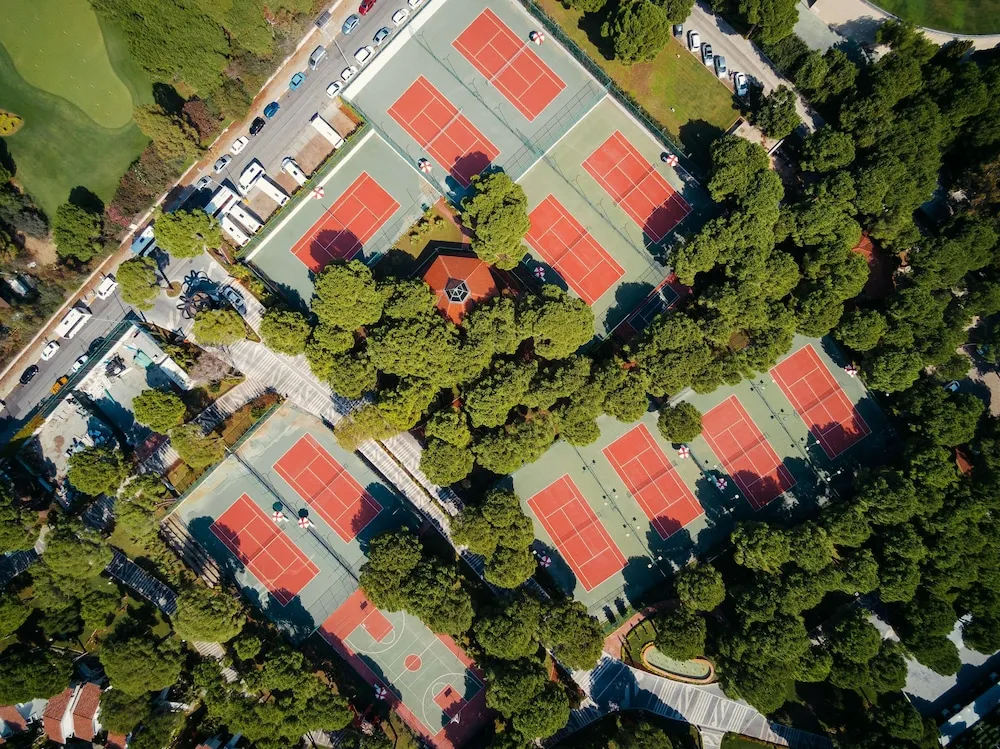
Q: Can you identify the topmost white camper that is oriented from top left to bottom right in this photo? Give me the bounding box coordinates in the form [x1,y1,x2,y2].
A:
[309,113,349,152]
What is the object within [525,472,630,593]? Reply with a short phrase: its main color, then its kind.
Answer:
red tennis court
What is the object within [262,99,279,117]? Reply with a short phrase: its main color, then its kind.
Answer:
blue car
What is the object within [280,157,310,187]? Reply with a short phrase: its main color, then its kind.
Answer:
white van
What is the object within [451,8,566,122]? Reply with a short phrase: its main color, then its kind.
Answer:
red tennis court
